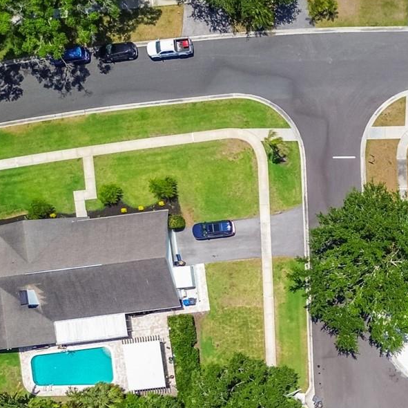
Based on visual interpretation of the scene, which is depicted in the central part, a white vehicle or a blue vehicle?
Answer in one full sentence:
What appears in the central part is a blue vehicle.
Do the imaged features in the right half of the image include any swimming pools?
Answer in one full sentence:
No, looking in the right half of the image, there is no swimming pool.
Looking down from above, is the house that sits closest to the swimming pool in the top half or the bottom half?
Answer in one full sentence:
Seen from above, the house that sits closest to the swimming pool lies in the bottom half of the view.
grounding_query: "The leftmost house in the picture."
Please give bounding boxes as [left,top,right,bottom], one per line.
[0,210,186,351]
